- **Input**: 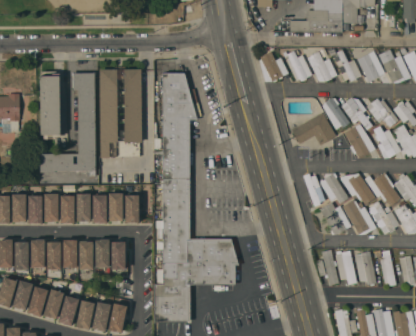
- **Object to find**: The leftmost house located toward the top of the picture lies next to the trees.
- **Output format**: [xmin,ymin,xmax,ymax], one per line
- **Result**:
[0,86,21,124]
